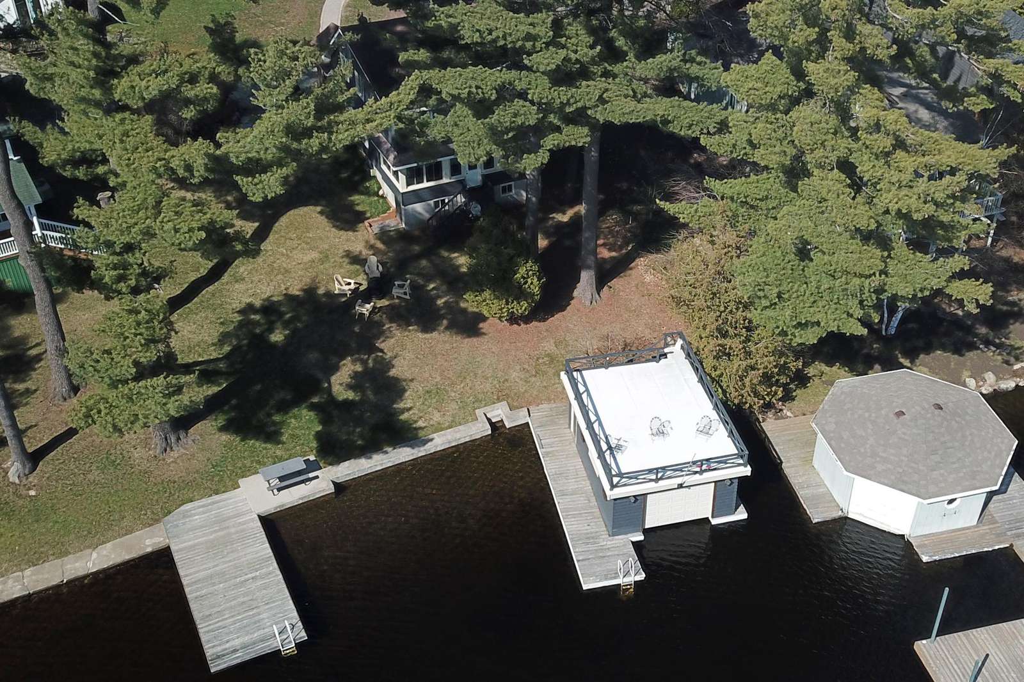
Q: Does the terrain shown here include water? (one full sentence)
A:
Yes, water shows up in the scene.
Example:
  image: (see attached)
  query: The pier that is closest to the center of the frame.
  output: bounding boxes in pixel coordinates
[530,407,648,594]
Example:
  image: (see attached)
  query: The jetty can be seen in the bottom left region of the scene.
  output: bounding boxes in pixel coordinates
[161,487,310,675]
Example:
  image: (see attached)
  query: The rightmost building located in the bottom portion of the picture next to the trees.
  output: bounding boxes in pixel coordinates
[809,369,1020,543]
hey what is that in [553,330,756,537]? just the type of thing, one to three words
building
